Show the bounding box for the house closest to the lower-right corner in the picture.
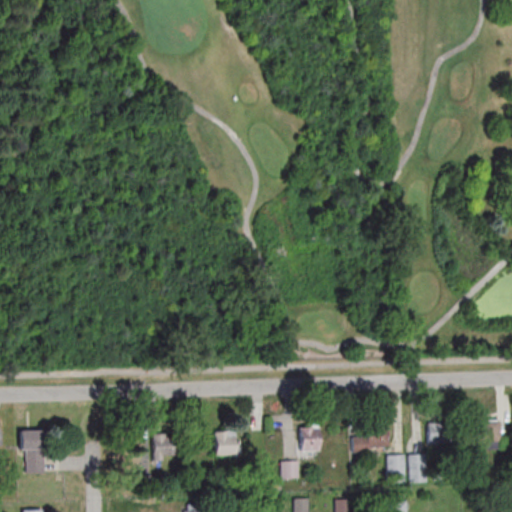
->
[486,420,501,450]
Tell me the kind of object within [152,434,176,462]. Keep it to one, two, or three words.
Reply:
house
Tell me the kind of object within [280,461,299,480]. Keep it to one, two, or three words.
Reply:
building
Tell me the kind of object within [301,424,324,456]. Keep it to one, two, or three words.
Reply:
house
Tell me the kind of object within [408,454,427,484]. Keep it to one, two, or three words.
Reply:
building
